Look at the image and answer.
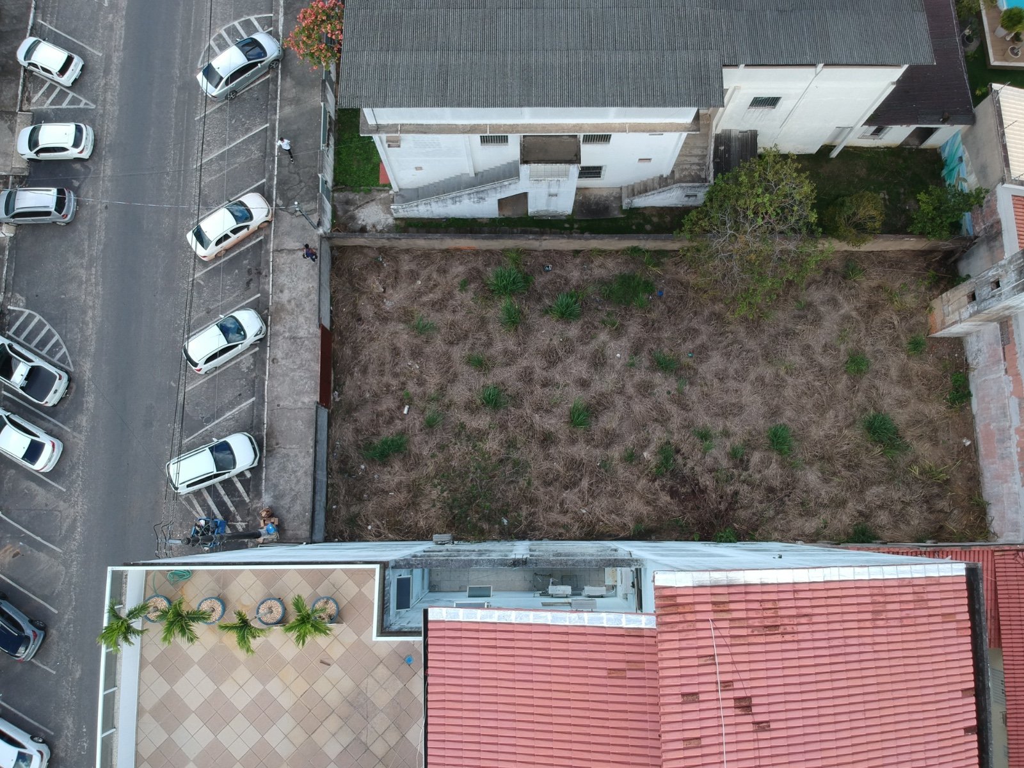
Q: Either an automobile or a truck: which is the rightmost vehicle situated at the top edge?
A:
automobile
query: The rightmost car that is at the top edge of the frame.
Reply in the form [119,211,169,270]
[195,33,284,101]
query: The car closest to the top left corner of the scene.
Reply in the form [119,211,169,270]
[11,33,89,90]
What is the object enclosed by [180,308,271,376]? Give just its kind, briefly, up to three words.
car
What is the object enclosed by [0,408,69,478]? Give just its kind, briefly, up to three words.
car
